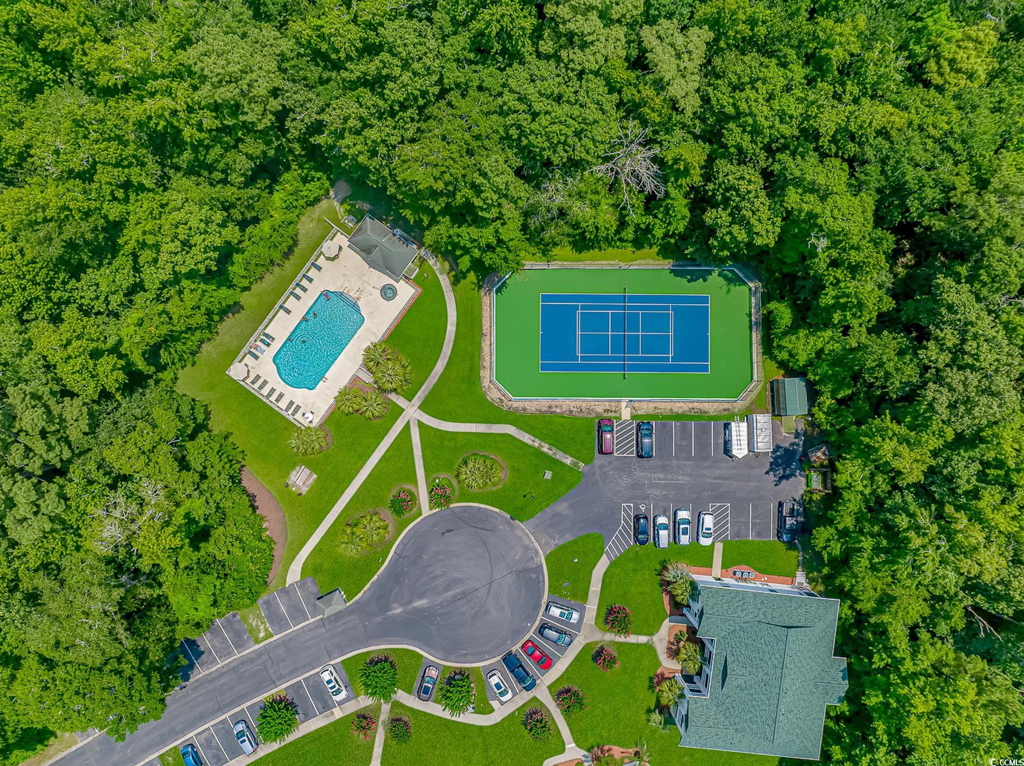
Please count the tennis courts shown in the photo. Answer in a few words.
1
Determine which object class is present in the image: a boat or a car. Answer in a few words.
car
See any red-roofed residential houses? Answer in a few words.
No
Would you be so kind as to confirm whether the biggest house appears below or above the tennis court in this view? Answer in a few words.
below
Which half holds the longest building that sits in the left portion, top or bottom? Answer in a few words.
top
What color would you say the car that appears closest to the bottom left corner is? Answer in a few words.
blue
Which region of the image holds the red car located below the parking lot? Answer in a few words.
bottom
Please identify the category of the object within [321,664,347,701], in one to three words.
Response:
car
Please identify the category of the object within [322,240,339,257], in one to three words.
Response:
umbrella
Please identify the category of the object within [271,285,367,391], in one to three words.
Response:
swimming pool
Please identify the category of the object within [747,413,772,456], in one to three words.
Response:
trailer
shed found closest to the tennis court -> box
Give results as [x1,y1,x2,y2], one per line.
[771,378,806,430]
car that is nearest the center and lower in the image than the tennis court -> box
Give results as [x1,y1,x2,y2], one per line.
[597,418,613,455]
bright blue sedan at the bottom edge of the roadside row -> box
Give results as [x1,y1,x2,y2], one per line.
[179,739,205,766]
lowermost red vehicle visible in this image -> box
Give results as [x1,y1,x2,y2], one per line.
[520,639,554,669]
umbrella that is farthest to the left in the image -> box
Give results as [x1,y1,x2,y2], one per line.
[229,363,247,380]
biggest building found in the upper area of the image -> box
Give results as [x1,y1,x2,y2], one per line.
[348,214,419,279]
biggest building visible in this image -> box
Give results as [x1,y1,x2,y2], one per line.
[671,576,849,762]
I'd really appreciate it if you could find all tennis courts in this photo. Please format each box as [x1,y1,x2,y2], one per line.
[495,268,755,399]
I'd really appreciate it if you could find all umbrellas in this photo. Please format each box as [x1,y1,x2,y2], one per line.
[229,363,247,380]
[322,240,339,257]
